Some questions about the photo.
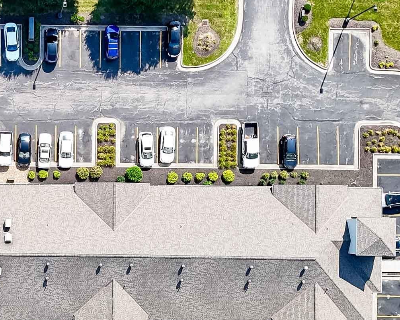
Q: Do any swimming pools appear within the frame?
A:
No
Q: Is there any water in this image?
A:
No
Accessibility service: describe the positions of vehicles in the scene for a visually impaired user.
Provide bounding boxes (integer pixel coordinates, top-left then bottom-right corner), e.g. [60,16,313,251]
[384,190,400,208]
[281,134,299,168]
[166,21,183,57]
[105,25,121,61]
[241,123,261,166]
[37,134,51,168]
[57,131,75,167]
[44,28,61,63]
[159,126,176,164]
[139,131,154,167]
[0,130,12,167]
[16,133,31,167]
[3,23,20,61]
